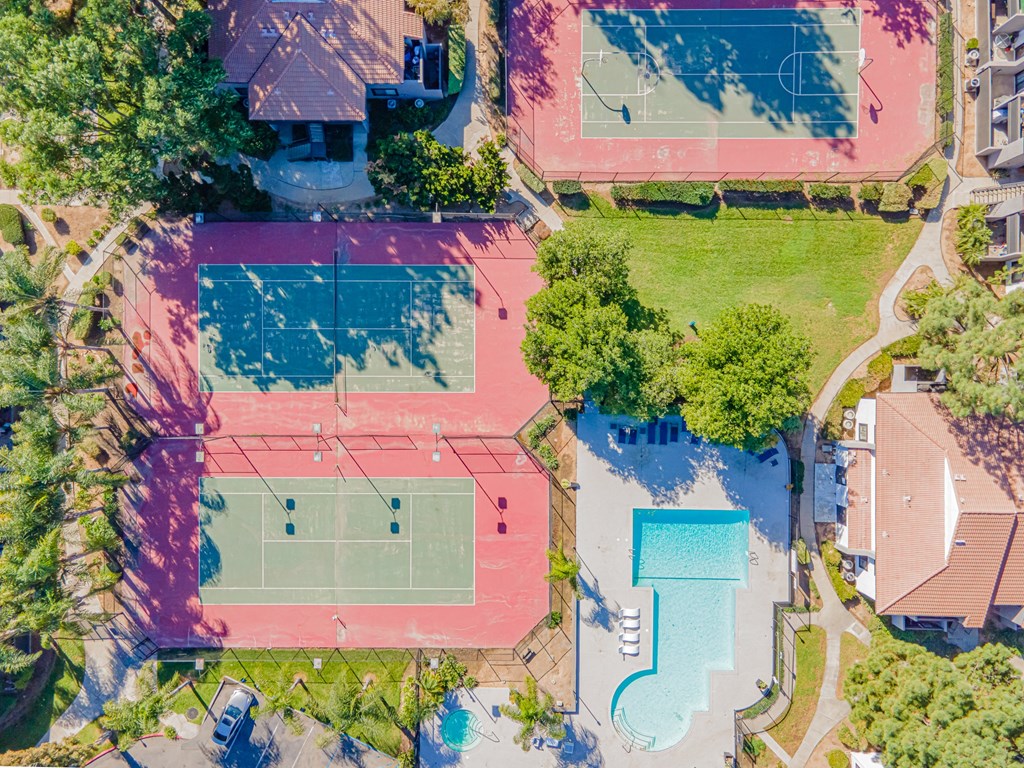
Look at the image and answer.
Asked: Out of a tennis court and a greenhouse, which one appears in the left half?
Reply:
tennis court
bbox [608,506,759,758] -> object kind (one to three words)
swimming pool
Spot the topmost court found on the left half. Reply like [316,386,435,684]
[123,222,551,437]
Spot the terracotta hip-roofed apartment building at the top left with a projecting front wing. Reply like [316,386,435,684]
[208,0,438,162]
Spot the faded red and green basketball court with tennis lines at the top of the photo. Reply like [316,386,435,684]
[508,0,937,180]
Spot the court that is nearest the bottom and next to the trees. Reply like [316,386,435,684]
[121,436,550,648]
